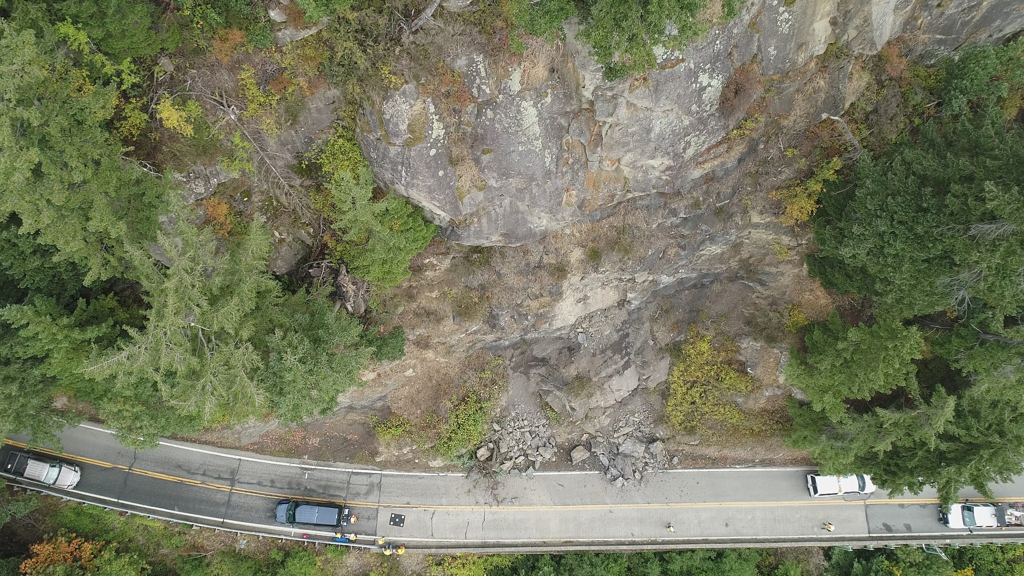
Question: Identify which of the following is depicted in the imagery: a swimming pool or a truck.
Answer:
truck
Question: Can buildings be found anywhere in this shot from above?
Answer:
No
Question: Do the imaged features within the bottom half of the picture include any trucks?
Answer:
Yes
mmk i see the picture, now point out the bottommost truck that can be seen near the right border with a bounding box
[937,501,1024,536]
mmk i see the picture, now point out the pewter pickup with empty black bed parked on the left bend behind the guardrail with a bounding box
[1,448,85,489]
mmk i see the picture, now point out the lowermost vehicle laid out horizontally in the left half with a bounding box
[275,497,352,529]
